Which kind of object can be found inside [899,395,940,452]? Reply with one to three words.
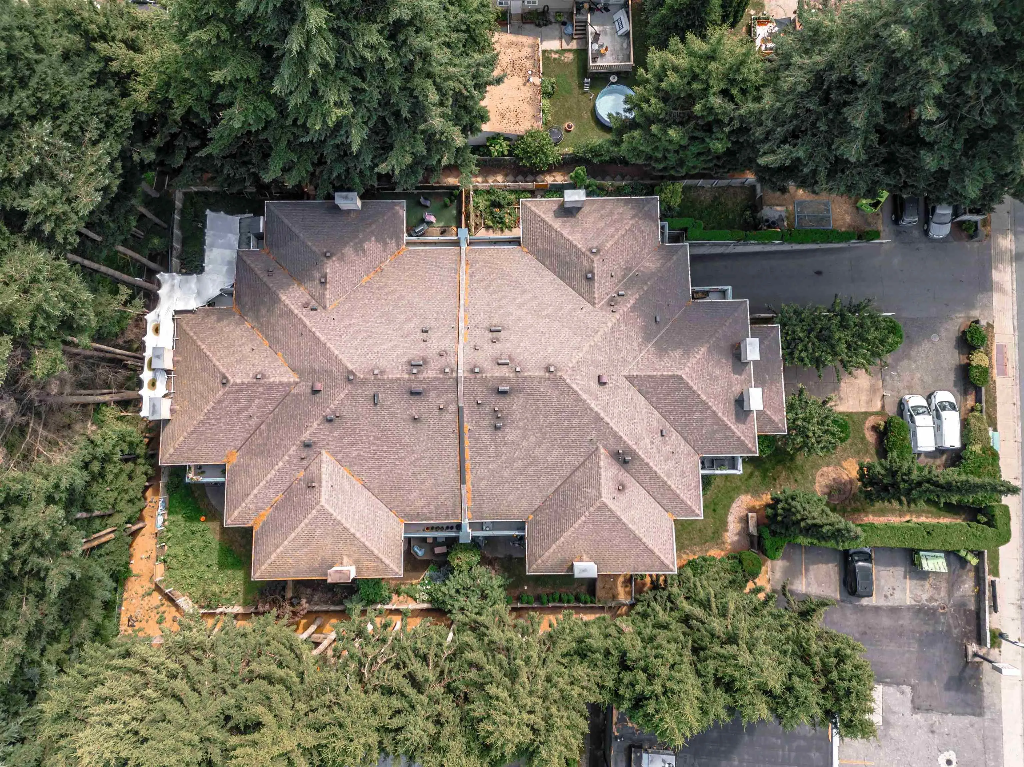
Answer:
van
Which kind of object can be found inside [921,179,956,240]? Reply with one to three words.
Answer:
car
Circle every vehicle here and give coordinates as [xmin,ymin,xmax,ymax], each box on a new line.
[921,179,956,240]
[927,391,962,449]
[899,395,940,452]
[841,546,873,597]
[890,168,923,227]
